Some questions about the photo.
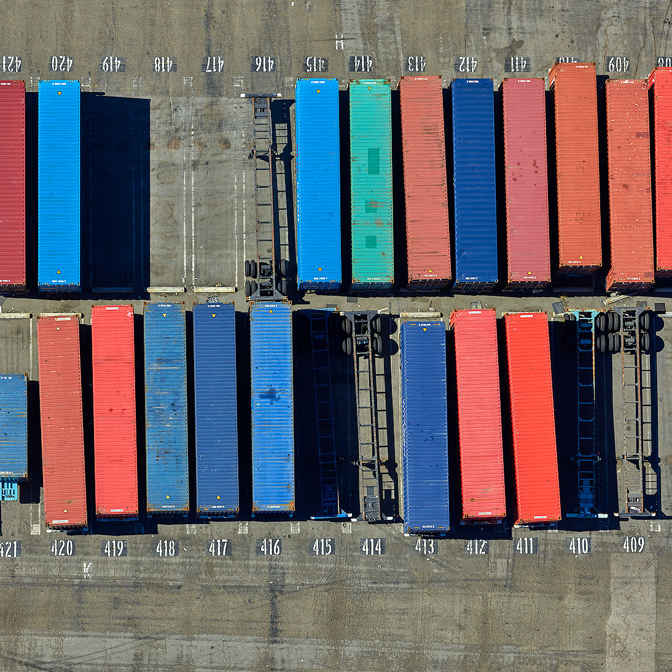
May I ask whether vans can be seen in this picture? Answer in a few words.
No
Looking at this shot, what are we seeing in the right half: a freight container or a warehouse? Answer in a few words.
freight container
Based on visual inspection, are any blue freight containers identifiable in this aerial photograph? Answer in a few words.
Yes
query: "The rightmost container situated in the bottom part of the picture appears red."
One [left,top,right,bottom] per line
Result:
[501,312,560,526]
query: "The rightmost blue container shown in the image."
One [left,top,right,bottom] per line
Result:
[448,78,498,290]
